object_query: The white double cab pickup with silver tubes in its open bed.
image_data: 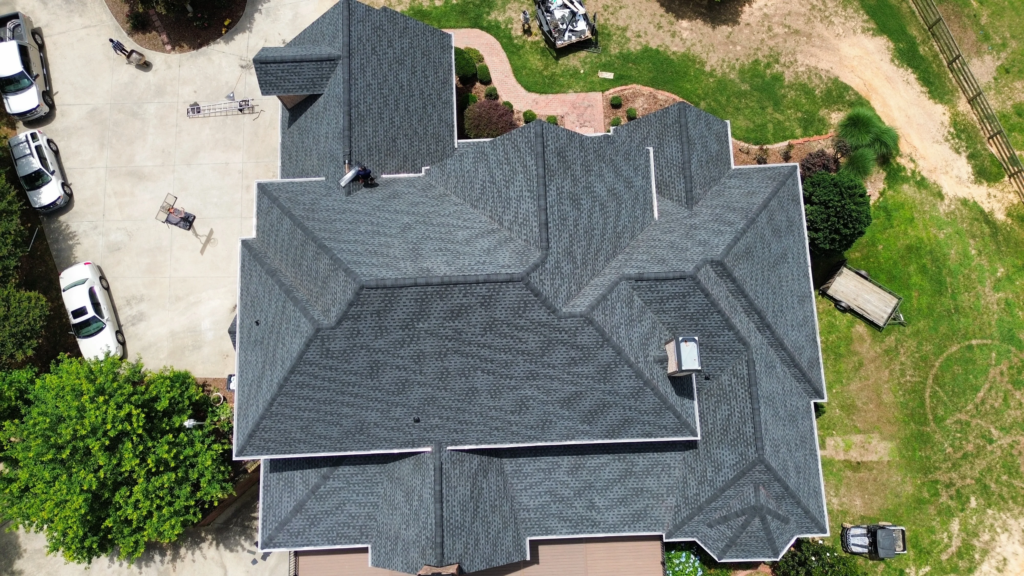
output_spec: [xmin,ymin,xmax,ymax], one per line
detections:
[0,12,54,125]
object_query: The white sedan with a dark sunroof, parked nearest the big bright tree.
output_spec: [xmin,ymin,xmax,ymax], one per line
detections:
[57,263,125,368]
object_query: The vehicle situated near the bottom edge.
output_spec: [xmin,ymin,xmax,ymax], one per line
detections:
[838,519,911,560]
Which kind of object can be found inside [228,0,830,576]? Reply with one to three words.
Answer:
house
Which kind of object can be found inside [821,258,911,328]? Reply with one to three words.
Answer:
trailer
